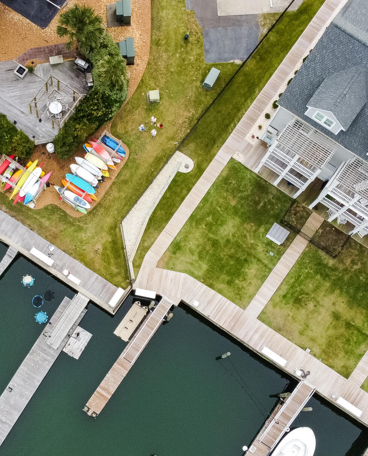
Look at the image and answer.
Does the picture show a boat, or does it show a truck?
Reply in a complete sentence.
This aerial view contains a boat.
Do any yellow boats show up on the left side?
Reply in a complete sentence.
Yes, you'll find a yellow boat on the left side.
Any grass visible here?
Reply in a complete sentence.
Yes, there's grass in this view.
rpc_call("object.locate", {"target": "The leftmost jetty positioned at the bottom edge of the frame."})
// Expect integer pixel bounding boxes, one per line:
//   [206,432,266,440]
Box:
[0,297,87,446]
